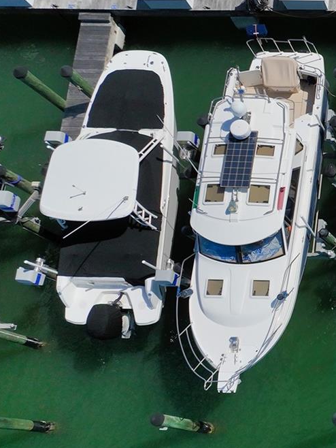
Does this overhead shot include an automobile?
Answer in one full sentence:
No, the picture doesn't show any automobile.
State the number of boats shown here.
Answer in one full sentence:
The photo contains 2 boats.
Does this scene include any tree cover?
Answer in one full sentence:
No, no tree cover is visible.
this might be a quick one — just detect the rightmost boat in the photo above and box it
[177,24,334,393]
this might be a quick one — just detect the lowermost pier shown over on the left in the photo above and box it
[64,10,127,140]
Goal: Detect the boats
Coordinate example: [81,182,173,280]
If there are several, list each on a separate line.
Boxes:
[40,50,202,341]
[177,24,334,393]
